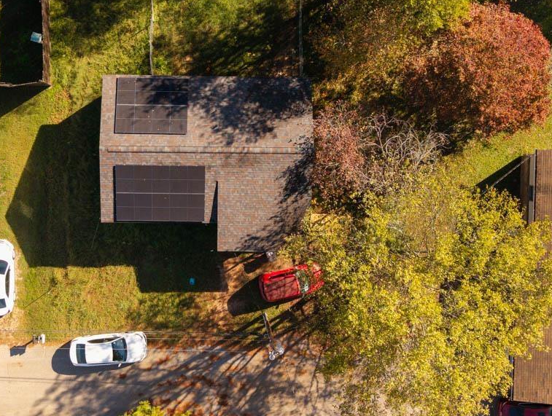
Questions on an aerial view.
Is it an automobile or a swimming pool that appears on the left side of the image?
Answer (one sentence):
You can see an automobile on the left side of the image.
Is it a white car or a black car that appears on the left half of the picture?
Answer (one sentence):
Looking on the left half of the picture, you will find a white car.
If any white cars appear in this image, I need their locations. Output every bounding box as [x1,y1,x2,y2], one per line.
[0,238,18,317]
[69,330,148,366]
